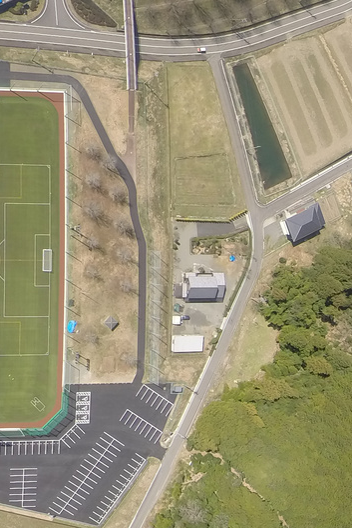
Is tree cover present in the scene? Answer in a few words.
Yes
